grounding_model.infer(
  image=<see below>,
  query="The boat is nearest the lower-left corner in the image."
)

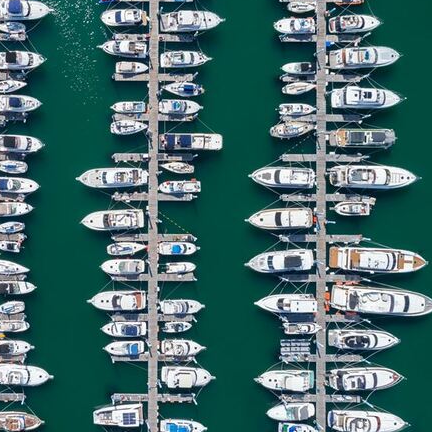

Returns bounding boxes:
[0,399,46,432]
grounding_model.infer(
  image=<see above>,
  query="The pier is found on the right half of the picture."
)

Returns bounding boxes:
[280,0,367,432]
